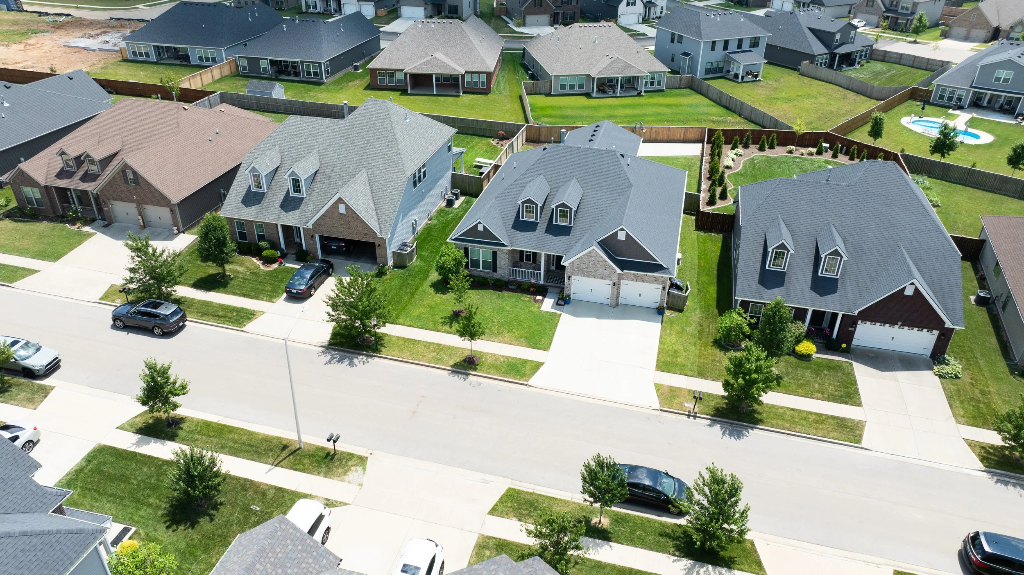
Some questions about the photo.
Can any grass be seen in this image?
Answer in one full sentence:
Yes, grass shows up in the scene.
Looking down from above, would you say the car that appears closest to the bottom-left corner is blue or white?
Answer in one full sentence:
In this view, the car that appears closest to the bottom-left corner is white.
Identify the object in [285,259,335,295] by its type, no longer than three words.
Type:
car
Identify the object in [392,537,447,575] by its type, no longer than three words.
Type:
car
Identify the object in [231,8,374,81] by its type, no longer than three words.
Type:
house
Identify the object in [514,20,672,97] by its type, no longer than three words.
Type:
house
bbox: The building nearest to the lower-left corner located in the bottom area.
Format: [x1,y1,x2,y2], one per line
[0,434,117,575]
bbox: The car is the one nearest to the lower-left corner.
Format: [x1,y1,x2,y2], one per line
[0,420,40,452]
